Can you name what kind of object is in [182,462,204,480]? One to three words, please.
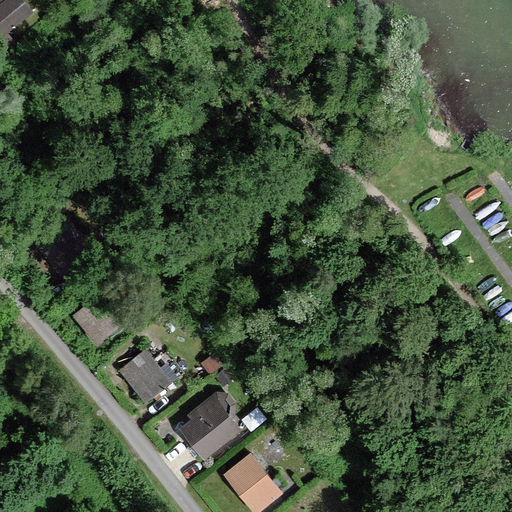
car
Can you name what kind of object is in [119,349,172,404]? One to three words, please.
house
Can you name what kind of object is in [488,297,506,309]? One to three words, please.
boat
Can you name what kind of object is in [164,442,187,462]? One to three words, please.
car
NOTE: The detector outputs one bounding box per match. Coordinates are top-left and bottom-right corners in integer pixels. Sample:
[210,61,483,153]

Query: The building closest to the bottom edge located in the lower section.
[222,453,282,512]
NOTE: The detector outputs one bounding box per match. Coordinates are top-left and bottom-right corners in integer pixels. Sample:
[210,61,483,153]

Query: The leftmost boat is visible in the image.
[418,198,440,213]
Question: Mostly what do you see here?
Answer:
trees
